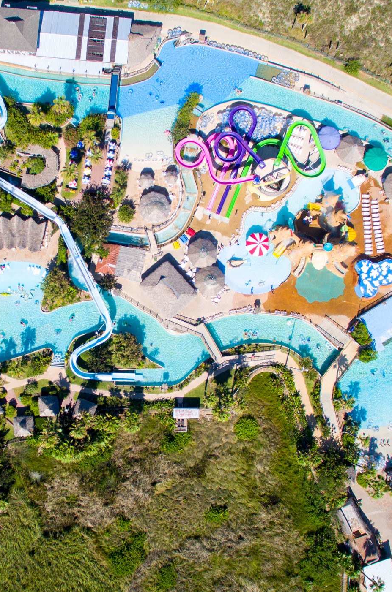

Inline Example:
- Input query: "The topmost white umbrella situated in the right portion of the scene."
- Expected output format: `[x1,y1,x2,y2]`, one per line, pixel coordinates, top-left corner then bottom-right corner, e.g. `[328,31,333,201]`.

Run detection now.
[245,232,269,255]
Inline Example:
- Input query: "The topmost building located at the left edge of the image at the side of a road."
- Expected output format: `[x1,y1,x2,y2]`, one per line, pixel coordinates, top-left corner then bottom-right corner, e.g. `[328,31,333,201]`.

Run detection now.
[0,7,41,57]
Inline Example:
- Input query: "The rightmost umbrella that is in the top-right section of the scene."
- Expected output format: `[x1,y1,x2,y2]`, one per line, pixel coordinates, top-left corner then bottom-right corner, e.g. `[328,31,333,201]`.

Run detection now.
[361,146,388,172]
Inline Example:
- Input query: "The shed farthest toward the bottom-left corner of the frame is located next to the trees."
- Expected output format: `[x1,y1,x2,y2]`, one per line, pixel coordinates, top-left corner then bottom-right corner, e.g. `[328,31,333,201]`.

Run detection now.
[13,414,37,437]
